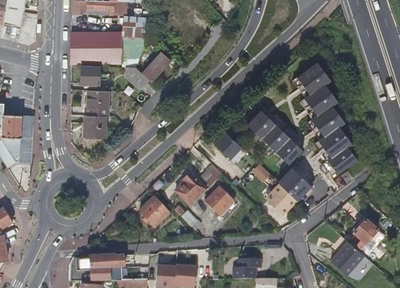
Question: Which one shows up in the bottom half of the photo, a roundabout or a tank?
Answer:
roundabout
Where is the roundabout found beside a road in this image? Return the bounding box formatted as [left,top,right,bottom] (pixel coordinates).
[33,165,107,238]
